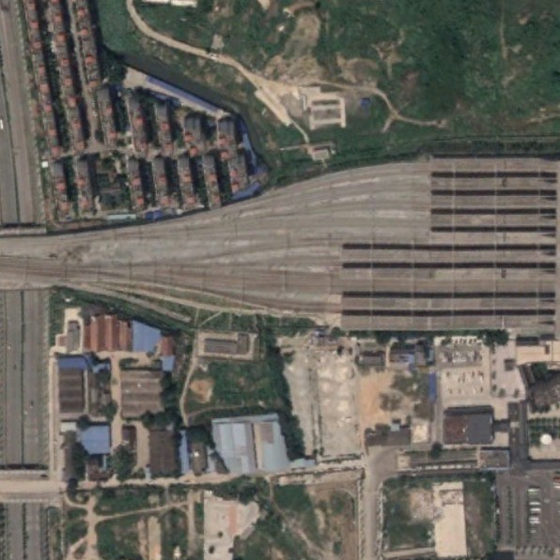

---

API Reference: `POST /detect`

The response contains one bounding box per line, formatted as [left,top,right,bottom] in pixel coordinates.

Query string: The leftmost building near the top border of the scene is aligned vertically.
[20,0,62,155]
